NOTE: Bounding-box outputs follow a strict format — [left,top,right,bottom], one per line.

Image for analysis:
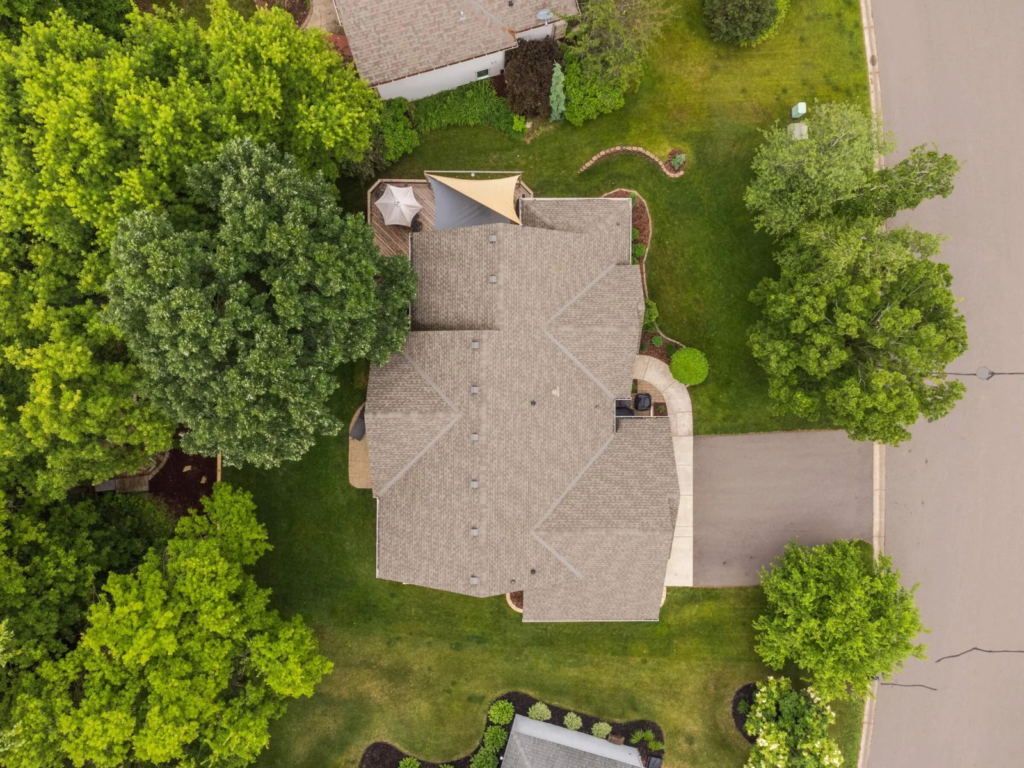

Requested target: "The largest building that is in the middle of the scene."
[364,196,679,622]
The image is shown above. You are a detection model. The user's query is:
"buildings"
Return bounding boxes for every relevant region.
[500,715,644,768]
[364,196,679,622]
[331,0,581,104]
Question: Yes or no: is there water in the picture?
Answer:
No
